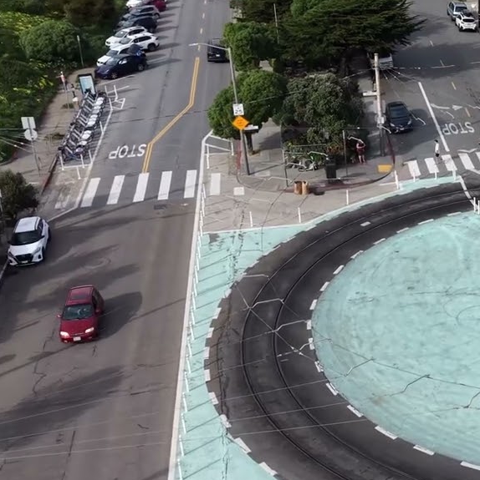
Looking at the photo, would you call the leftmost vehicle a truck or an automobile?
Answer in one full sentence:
What you see as the leftmost vehicle is an automobile.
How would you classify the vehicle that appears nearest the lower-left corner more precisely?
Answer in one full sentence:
From above, the vehicle that appears nearest the lower-left corner can be identified as a car.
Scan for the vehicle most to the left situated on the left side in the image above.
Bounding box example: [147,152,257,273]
[6,211,61,259]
